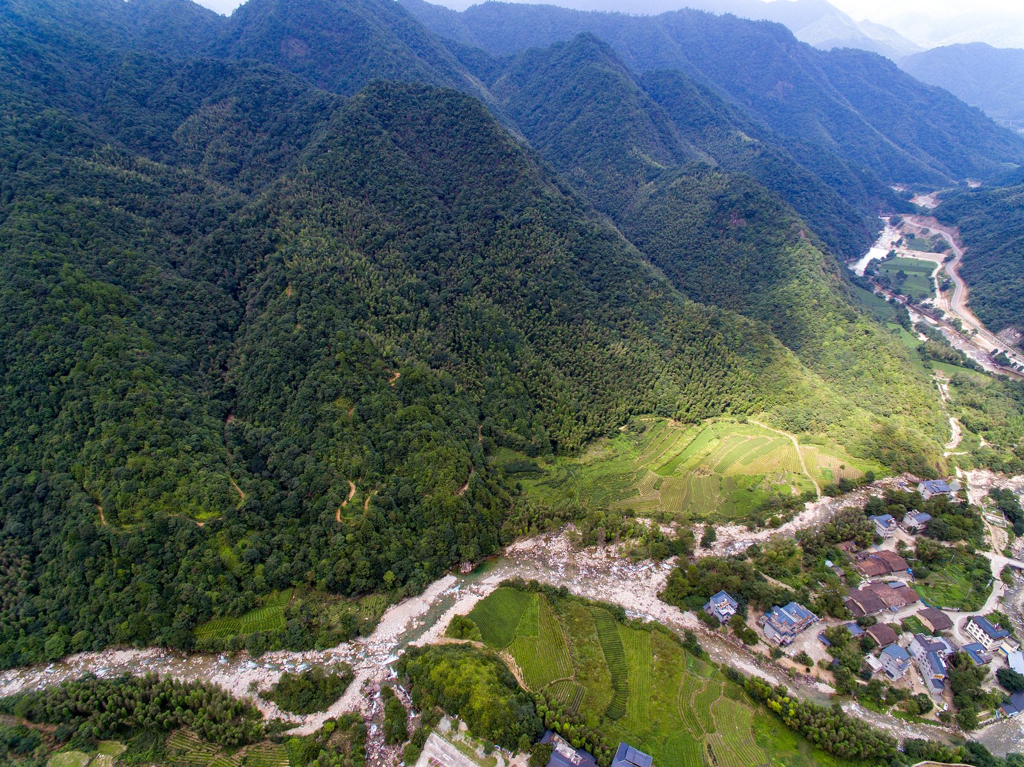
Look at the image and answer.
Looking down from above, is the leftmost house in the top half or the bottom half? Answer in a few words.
bottom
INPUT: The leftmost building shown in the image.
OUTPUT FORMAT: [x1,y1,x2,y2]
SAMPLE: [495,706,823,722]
[532,726,596,767]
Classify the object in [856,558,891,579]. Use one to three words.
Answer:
house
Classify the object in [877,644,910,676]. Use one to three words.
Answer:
house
